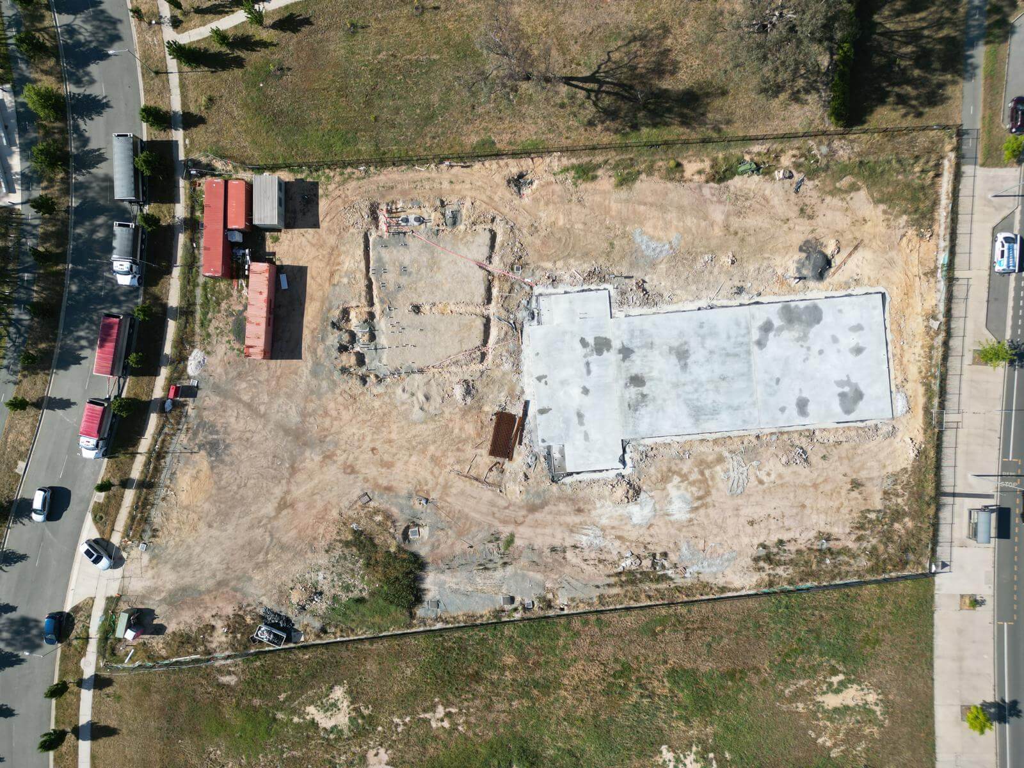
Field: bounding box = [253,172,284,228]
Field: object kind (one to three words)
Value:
building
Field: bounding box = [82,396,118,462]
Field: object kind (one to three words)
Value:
truck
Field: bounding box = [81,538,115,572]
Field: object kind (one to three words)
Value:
car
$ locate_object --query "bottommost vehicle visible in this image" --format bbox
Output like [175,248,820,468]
[44,611,65,644]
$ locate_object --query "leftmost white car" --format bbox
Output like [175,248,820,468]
[29,489,51,523]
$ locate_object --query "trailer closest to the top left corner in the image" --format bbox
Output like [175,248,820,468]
[113,133,146,222]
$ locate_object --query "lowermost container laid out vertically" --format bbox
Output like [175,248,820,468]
[244,262,276,360]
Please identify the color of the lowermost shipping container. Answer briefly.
pink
